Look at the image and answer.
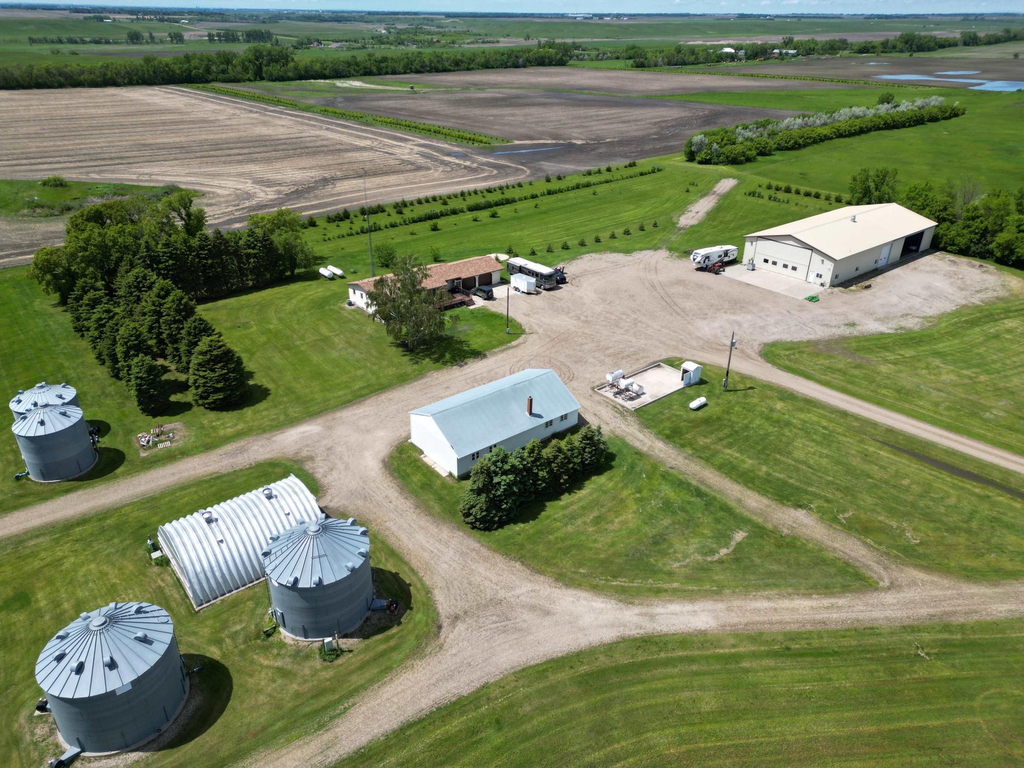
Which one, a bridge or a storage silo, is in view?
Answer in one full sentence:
The image shows a storage silo.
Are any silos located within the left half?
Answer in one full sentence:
Yes, the scene does show a silo within the left half.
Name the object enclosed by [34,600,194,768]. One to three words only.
silo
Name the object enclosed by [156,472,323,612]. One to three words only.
shed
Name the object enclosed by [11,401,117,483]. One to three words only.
silo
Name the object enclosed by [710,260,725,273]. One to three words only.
vehicle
